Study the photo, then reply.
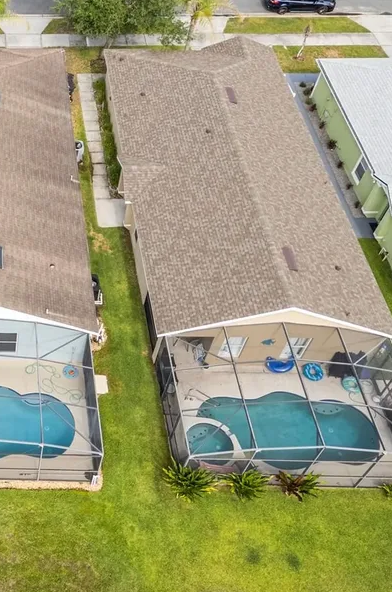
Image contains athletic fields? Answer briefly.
No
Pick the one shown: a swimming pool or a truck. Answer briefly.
swimming pool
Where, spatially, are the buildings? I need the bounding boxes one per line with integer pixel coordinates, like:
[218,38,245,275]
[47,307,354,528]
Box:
[0,48,100,362]
[313,57,392,274]
[103,32,392,372]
